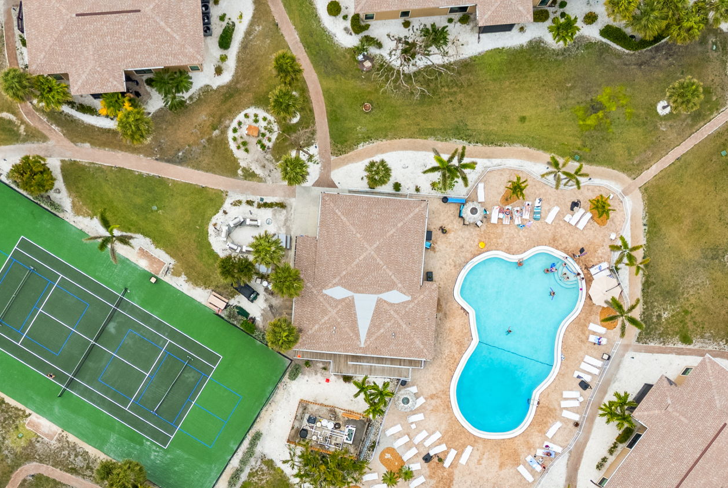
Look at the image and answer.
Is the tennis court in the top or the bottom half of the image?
bottom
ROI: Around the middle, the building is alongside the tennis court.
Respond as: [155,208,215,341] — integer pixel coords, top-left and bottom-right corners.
[289,193,439,361]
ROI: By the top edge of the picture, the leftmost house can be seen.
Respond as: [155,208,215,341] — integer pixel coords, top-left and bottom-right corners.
[22,0,205,105]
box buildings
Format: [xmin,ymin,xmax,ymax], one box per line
[352,0,554,40]
[588,351,728,488]
[289,193,439,361]
[22,0,205,105]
